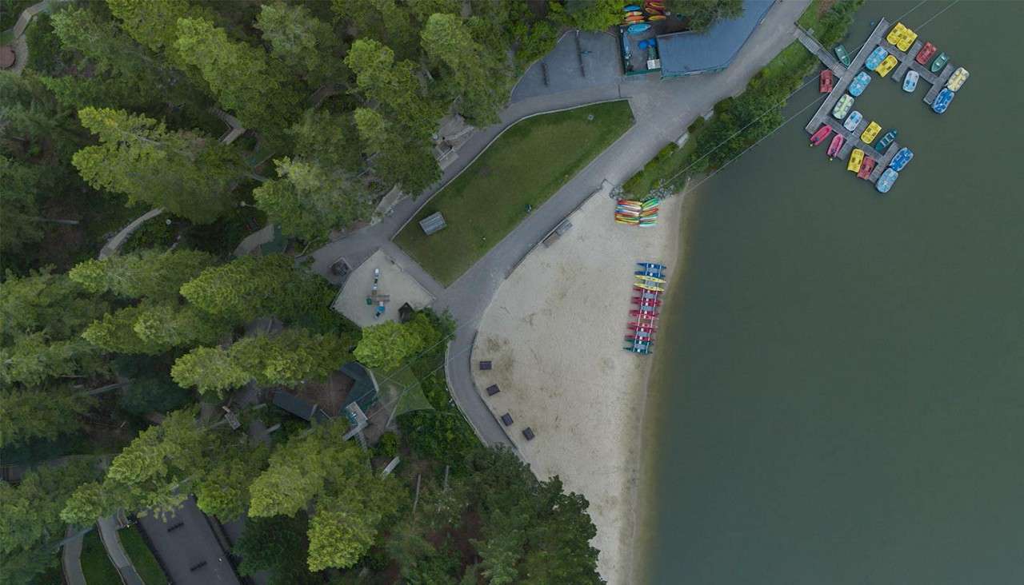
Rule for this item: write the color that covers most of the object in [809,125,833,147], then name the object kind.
red boat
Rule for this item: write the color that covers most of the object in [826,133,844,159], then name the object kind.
pink boat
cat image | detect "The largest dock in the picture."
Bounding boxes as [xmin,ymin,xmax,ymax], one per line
[805,15,955,183]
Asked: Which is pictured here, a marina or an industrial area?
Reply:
marina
